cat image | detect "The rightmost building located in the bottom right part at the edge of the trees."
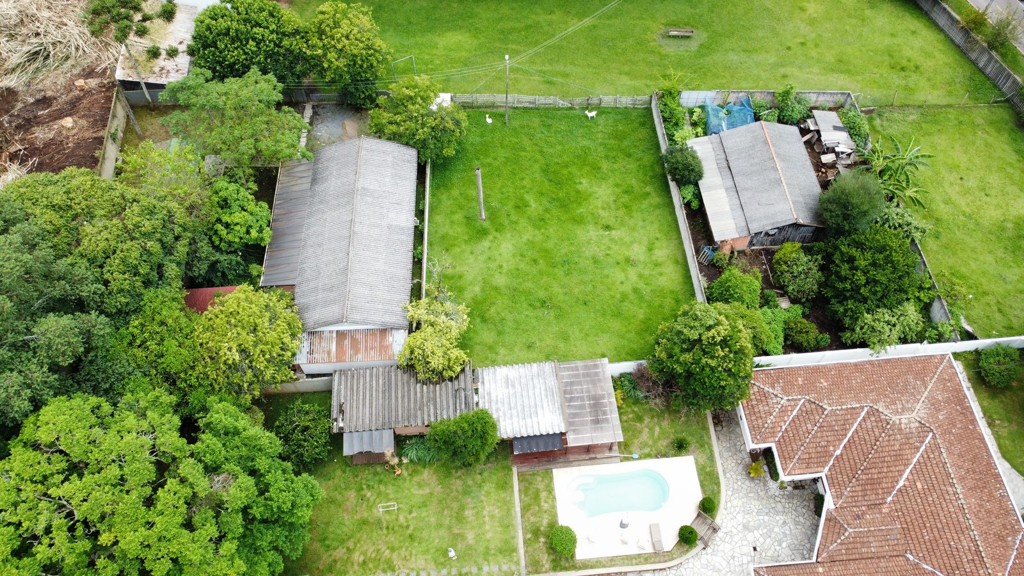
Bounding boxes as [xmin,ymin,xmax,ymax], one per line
[728,351,1024,576]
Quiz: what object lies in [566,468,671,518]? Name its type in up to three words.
swimming pool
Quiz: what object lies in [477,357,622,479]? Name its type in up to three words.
building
